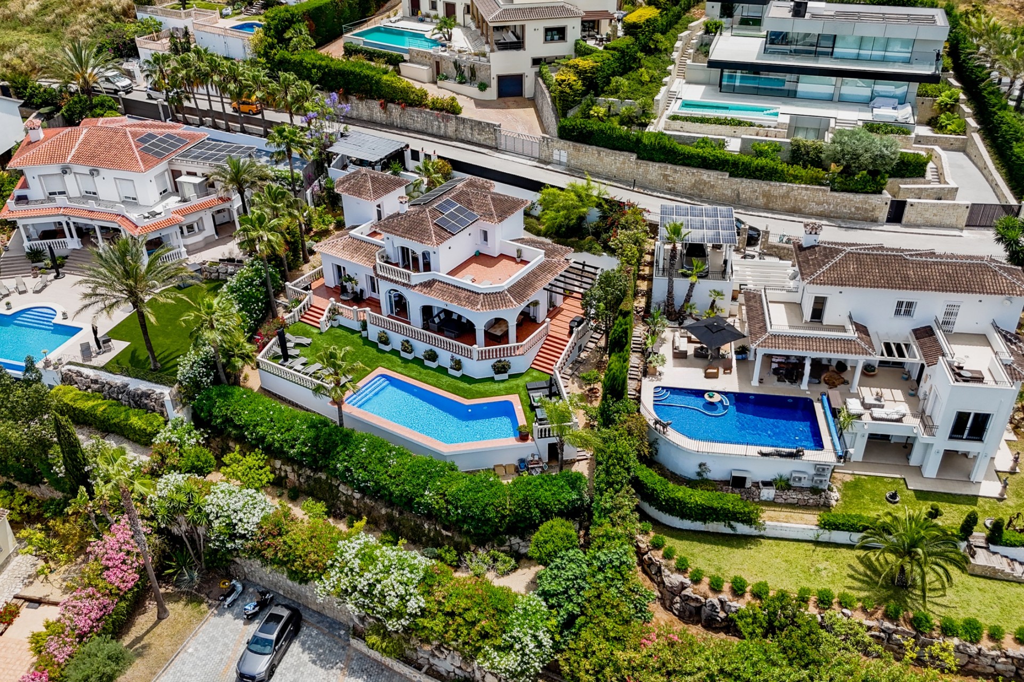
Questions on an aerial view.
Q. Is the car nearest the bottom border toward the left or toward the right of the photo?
left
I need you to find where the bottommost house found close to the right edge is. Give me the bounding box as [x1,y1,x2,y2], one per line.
[746,220,1024,482]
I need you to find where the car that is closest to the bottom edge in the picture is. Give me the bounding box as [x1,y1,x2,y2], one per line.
[238,604,299,677]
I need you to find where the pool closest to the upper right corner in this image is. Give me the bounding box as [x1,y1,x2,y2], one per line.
[679,100,780,117]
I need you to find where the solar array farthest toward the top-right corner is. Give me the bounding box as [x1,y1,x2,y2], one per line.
[659,205,737,244]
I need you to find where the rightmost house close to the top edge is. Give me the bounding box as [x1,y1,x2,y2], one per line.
[706,0,953,118]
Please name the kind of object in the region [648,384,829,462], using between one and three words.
swimming pool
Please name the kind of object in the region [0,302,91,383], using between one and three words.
swimming pool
